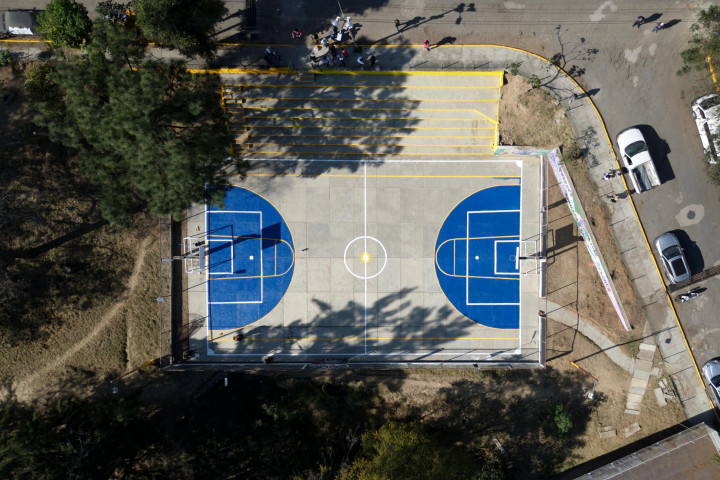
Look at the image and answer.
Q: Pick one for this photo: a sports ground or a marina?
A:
sports ground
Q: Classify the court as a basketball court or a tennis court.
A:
basketball court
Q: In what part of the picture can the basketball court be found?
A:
center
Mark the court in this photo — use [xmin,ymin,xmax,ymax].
[188,154,541,361]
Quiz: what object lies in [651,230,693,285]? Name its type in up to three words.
car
